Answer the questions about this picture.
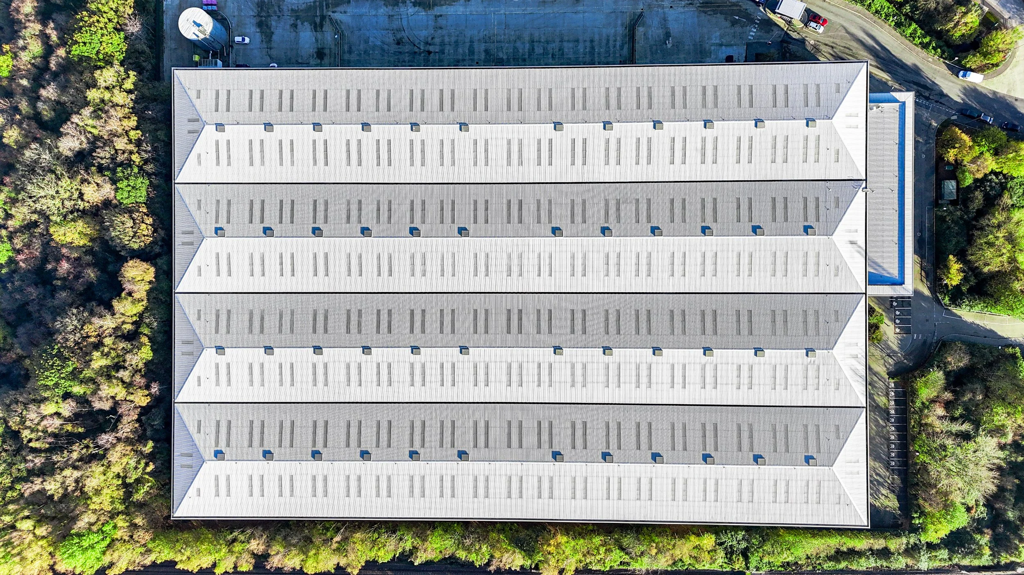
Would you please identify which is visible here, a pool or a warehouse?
warehouse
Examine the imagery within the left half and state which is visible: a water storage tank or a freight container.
water storage tank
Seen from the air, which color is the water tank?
white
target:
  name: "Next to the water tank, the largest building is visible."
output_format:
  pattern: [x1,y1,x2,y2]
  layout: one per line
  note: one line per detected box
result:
[171,59,870,529]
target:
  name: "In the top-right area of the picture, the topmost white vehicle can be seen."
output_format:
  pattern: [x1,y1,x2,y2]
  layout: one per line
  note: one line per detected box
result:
[806,20,824,33]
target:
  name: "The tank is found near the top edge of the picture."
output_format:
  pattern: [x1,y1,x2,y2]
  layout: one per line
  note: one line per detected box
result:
[179,6,226,58]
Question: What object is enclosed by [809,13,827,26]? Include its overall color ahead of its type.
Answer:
red vehicle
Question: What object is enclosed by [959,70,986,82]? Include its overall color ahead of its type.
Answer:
white vehicle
